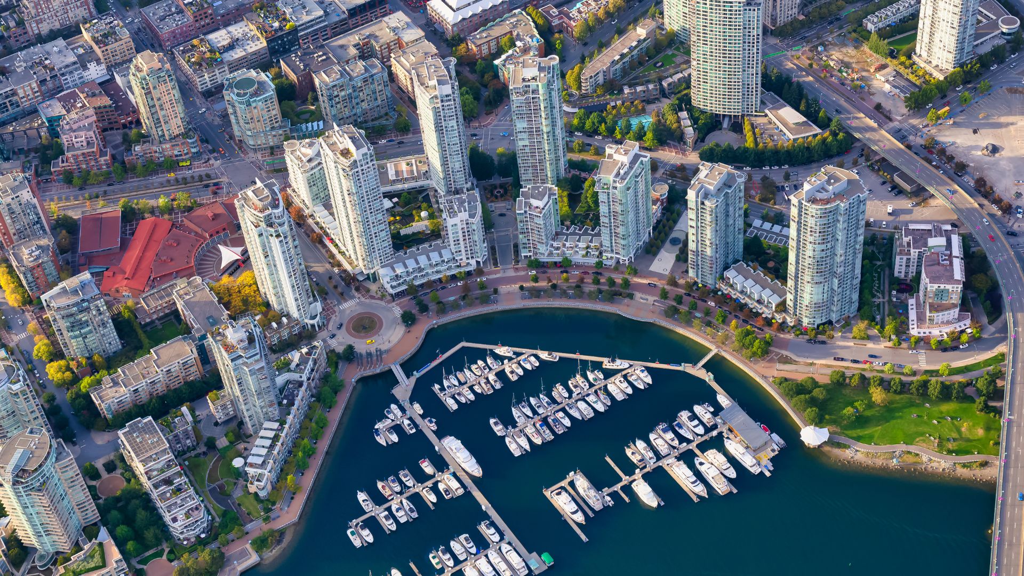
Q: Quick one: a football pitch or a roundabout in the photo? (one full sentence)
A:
Visible in the photo is a roundabout.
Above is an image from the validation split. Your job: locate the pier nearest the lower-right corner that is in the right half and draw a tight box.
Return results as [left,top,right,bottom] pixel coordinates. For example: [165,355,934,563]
[716,401,780,478]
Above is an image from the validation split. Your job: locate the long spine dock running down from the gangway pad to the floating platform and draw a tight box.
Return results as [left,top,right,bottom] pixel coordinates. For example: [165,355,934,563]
[400,401,537,566]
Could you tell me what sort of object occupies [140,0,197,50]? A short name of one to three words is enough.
building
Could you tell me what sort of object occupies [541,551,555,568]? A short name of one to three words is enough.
vessel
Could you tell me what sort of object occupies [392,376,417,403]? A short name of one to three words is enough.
pier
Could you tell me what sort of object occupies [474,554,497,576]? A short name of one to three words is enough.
boat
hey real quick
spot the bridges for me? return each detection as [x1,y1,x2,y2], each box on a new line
[768,40,1024,576]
